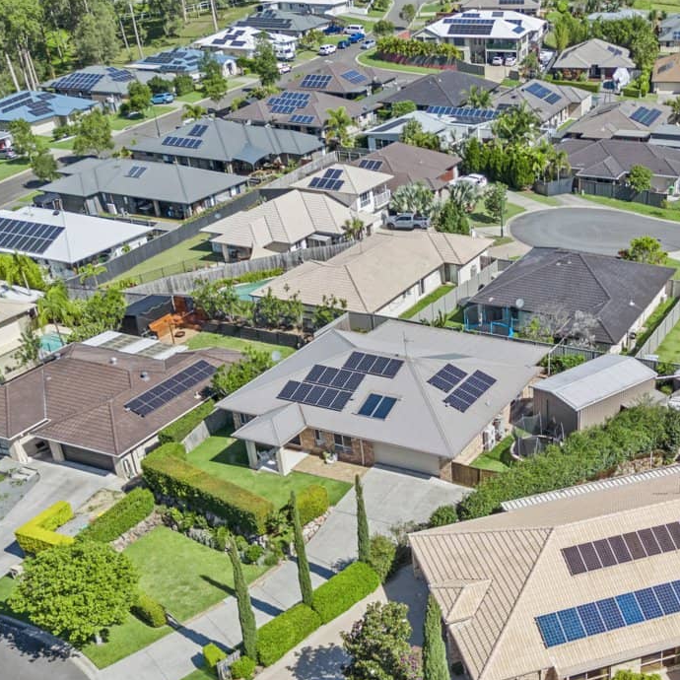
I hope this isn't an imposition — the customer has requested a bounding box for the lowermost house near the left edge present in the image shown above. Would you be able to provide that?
[0,342,252,486]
